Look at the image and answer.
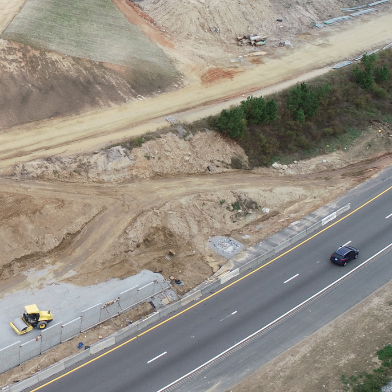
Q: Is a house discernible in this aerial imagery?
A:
No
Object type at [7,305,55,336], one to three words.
work vehicle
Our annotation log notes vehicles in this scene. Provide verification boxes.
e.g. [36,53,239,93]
[7,305,55,336]
[331,247,361,267]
